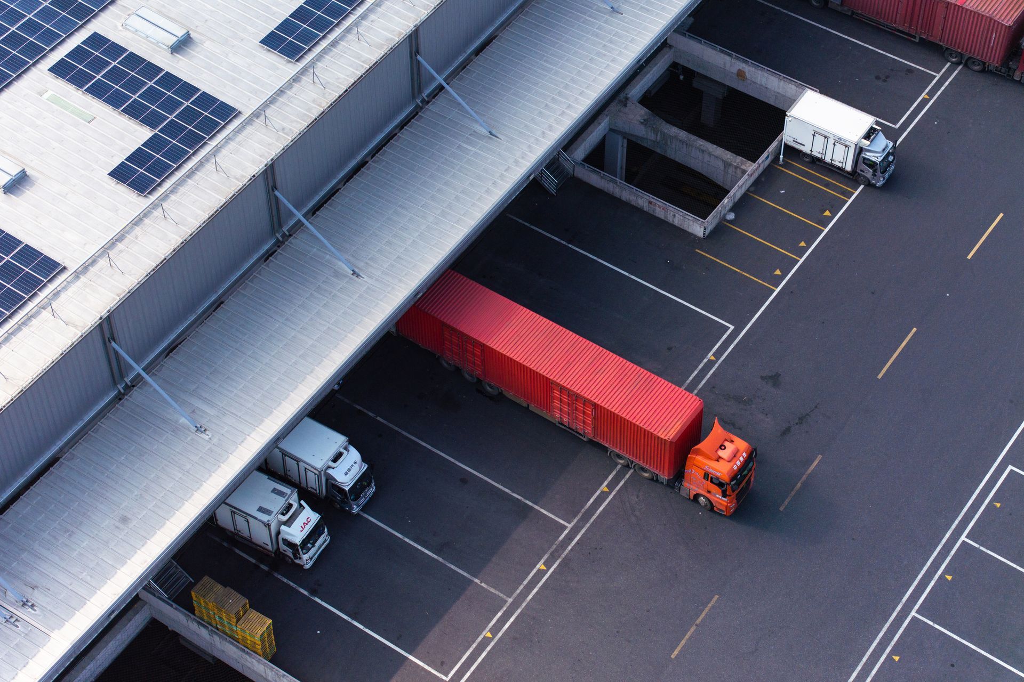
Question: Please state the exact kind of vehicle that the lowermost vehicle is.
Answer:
truck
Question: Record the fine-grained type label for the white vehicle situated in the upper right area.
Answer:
truck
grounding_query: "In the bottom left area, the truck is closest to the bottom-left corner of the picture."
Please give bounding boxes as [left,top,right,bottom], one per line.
[210,469,330,572]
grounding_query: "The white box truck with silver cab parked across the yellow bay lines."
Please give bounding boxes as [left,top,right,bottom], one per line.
[784,88,898,190]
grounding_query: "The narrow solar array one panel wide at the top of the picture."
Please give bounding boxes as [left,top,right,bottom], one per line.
[258,0,359,57]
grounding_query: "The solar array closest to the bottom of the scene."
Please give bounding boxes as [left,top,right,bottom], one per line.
[0,226,63,317]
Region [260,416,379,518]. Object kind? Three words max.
truck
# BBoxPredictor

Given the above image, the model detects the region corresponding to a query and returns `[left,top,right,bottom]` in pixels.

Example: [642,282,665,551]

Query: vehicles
[815,0,1024,86]
[260,416,379,518]
[784,88,898,190]
[389,270,764,521]
[210,469,330,572]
